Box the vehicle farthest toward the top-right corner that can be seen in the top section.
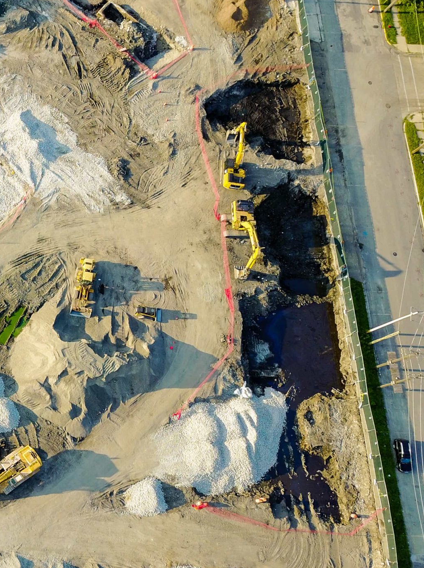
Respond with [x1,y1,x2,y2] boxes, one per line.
[220,124,249,195]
